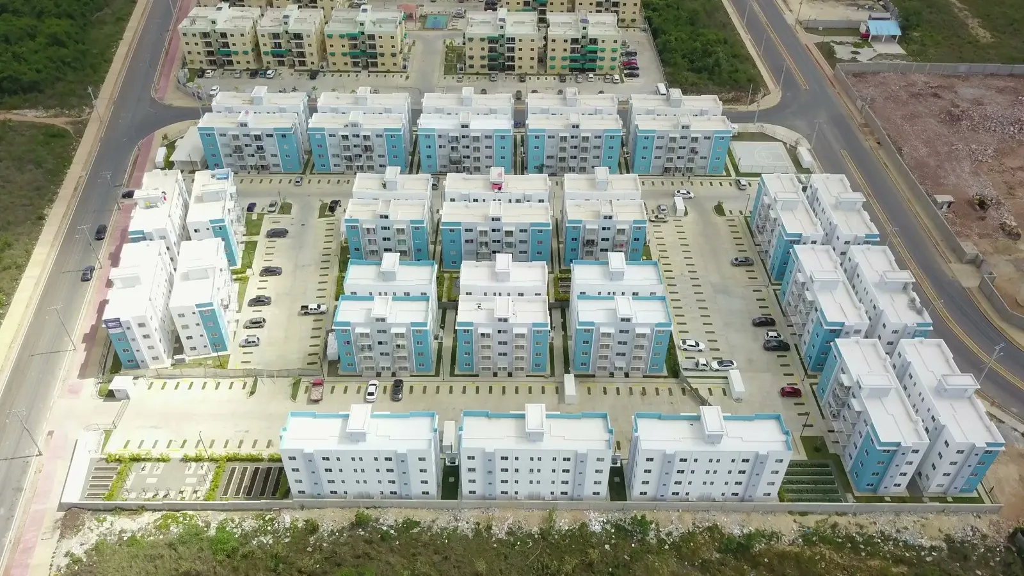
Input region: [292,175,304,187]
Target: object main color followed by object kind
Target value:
gray vehicle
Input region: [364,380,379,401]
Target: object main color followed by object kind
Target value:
white car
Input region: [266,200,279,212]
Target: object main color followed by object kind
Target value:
gray vehicle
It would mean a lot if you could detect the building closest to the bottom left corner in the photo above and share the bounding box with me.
[62,429,111,499]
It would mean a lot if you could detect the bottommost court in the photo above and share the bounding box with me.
[730,141,796,172]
